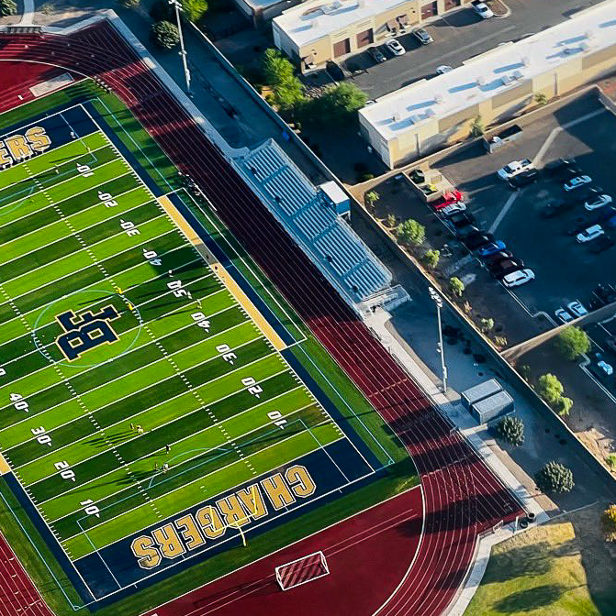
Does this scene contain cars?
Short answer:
Yes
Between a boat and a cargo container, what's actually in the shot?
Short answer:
cargo container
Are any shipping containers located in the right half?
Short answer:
Yes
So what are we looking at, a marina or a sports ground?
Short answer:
sports ground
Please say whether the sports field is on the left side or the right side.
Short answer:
left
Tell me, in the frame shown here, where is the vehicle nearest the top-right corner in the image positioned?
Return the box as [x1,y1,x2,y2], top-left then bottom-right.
[471,0,493,21]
